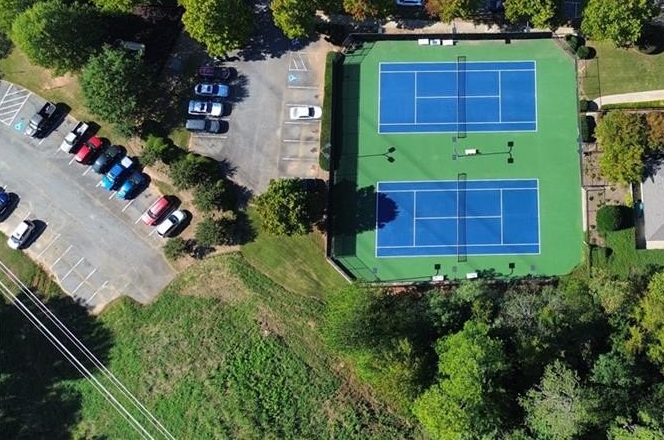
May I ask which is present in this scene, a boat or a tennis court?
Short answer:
tennis court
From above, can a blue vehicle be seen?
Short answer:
Yes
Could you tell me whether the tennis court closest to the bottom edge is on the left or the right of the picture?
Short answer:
right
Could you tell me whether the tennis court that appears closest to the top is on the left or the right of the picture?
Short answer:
right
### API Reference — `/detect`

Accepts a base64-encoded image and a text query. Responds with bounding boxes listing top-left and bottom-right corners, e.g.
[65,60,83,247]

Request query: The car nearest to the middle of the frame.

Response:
[290,105,320,121]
